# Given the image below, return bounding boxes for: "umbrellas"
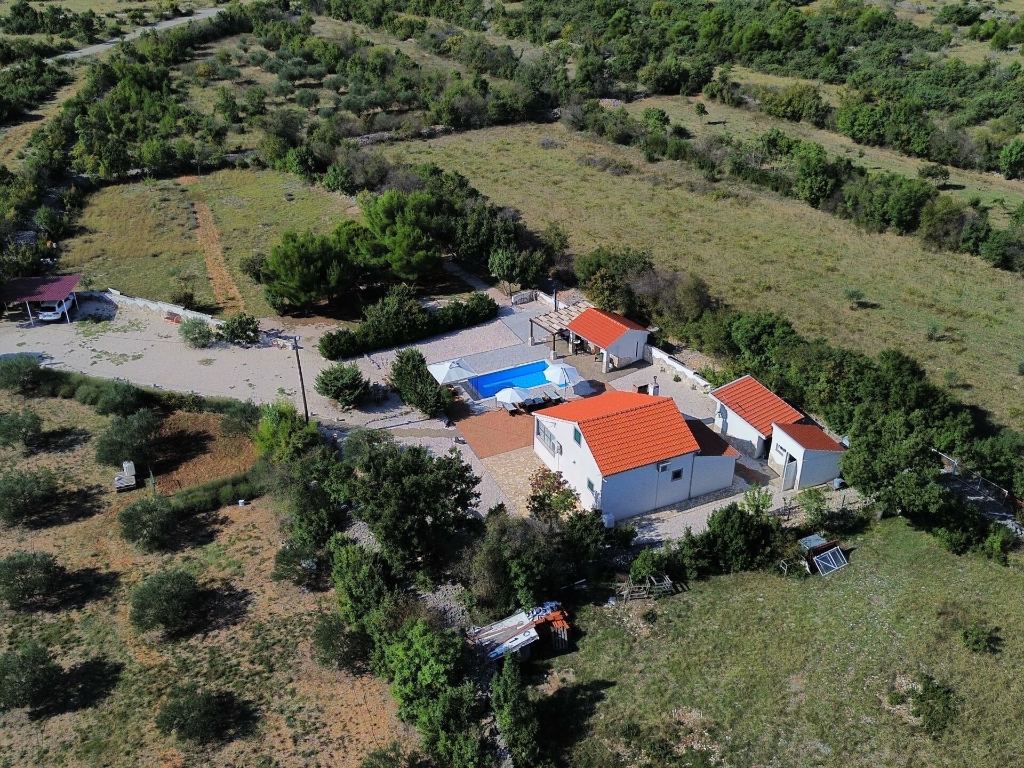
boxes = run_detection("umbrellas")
[488,385,532,416]
[428,358,483,405]
[542,365,582,405]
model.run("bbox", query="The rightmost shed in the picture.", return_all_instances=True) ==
[767,423,848,493]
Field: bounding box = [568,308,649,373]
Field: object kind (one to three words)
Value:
building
